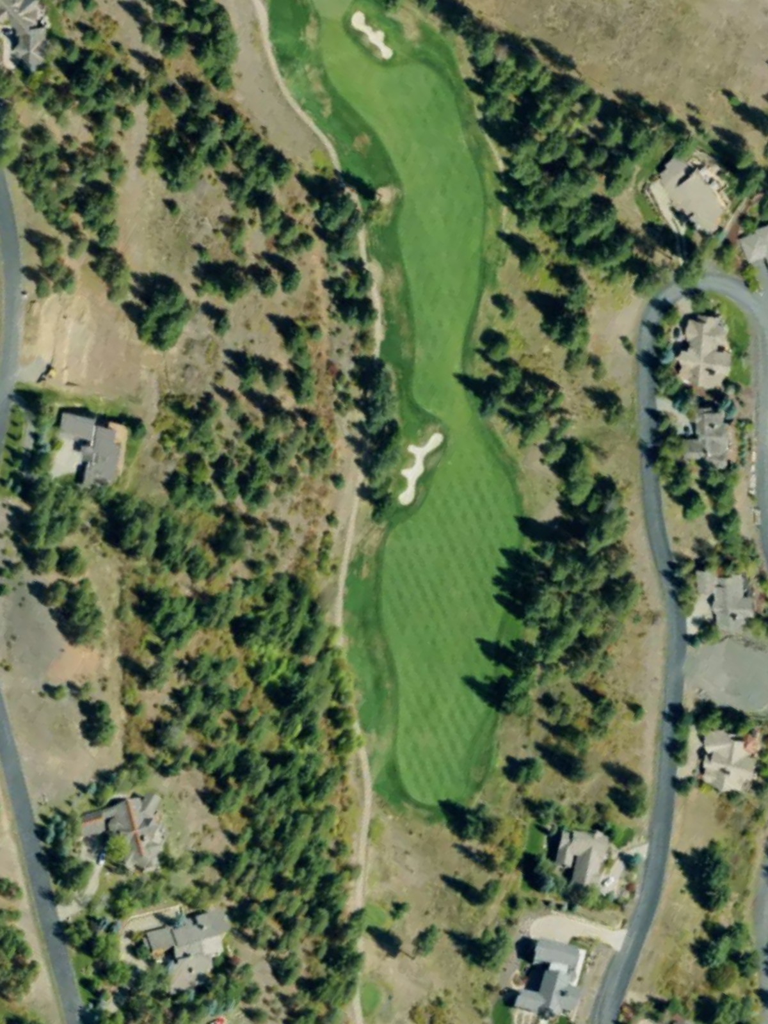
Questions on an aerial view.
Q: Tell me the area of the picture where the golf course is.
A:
center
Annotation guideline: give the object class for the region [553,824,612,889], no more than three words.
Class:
house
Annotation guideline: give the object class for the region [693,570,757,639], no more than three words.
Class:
house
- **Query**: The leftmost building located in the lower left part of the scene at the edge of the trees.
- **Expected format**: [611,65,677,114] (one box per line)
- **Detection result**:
[81,789,168,875]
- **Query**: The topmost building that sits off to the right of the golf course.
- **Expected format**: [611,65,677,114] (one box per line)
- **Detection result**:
[658,157,732,240]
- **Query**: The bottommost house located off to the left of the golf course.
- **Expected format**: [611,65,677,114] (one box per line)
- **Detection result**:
[124,904,233,993]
